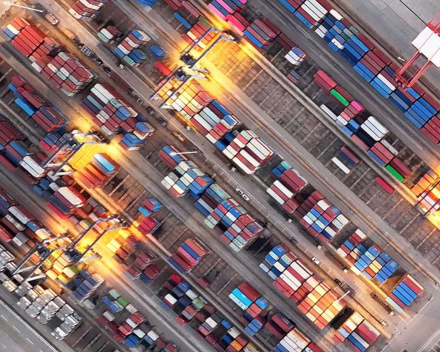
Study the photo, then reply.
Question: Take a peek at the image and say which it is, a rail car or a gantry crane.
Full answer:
This aerial view contains a gantry crane.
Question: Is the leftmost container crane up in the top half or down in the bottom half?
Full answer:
Seen from above, the leftmost container crane lies in the bottom half of the view.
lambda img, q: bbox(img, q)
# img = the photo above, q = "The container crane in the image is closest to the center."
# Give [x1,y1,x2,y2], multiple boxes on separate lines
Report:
[148,64,209,114]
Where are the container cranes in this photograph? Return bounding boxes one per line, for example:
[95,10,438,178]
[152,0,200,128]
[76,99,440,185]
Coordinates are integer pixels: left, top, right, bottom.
[17,230,72,282]
[391,14,440,92]
[180,26,235,75]
[66,214,128,262]
[43,129,104,179]
[148,64,209,114]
